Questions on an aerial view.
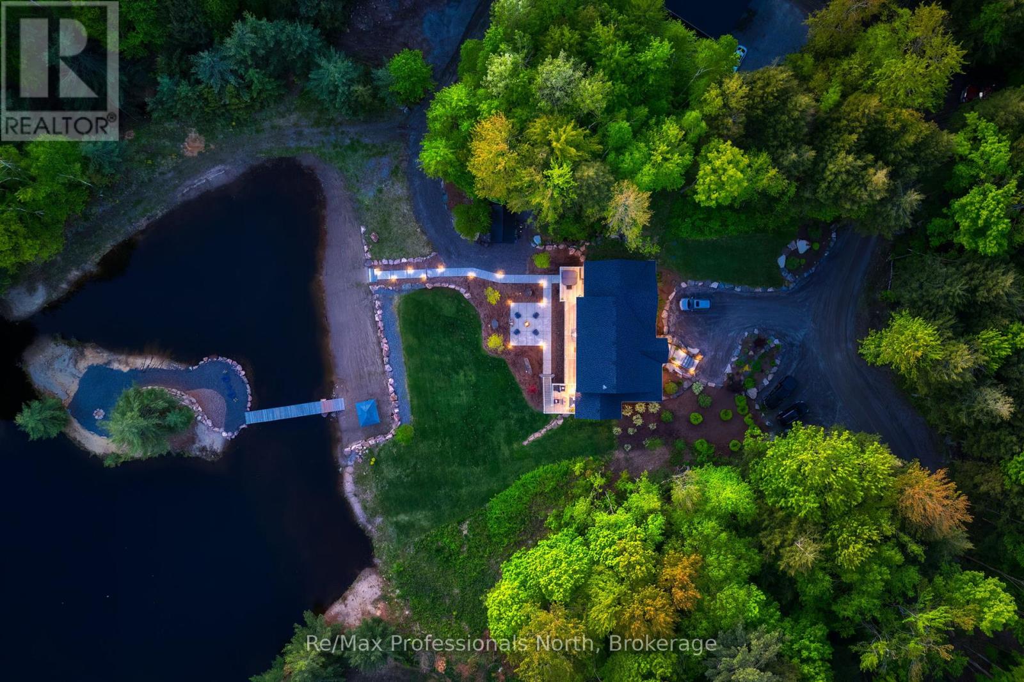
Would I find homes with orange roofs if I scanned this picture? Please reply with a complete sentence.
No, I can't see a single home with an orange roof in this photo.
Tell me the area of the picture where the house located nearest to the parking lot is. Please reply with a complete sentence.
The house located nearest to the parking lot sits in the center section of the image.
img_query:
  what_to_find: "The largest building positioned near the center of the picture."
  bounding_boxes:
[540,259,669,420]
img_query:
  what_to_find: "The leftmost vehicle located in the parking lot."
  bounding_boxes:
[679,297,711,312]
